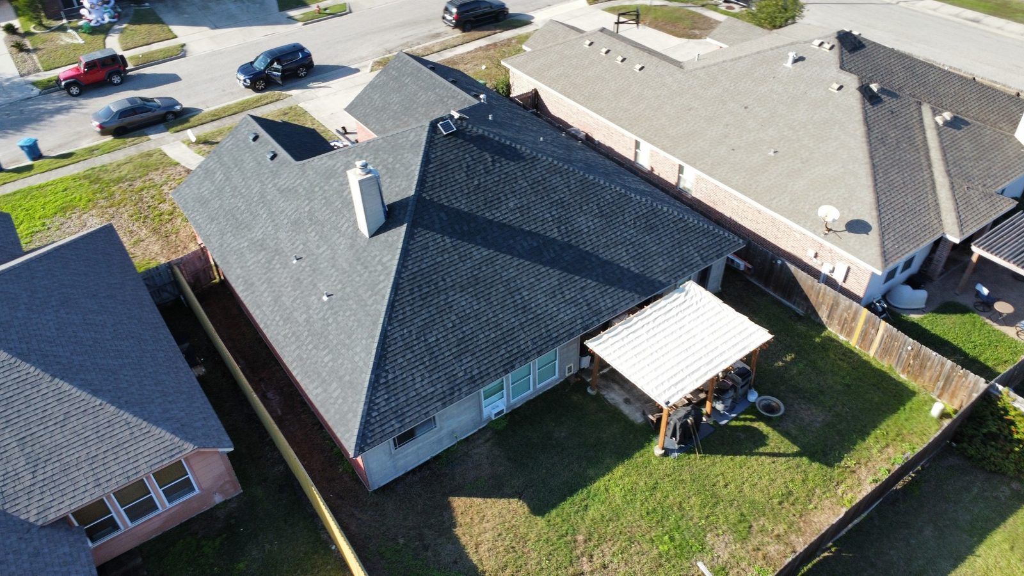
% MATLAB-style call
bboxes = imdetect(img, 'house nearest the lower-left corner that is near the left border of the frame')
[0,212,245,576]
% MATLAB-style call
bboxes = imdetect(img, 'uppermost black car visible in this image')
[442,0,515,32]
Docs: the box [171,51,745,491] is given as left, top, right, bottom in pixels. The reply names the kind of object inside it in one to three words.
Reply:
house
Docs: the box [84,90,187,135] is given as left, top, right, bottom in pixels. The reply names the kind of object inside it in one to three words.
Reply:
car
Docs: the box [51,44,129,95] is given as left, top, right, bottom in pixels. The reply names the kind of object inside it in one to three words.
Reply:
car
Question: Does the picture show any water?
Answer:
No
